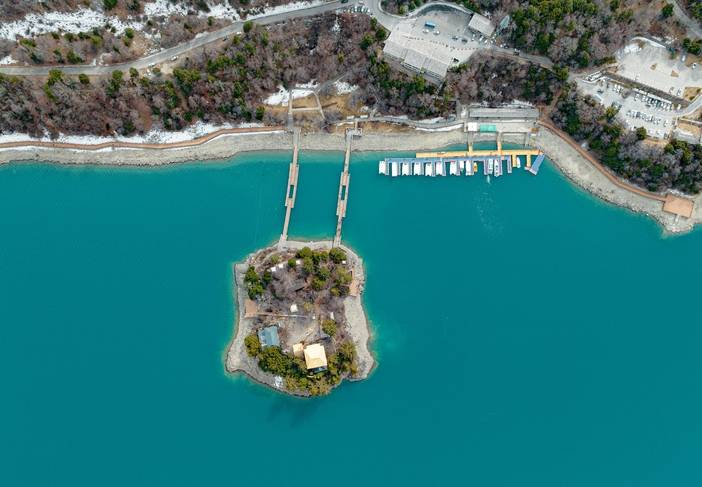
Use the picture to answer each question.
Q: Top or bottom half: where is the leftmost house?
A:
bottom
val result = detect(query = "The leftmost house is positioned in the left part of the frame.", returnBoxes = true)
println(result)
[258,325,281,353]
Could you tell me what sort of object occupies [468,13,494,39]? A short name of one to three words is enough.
building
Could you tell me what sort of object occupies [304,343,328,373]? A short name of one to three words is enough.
building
